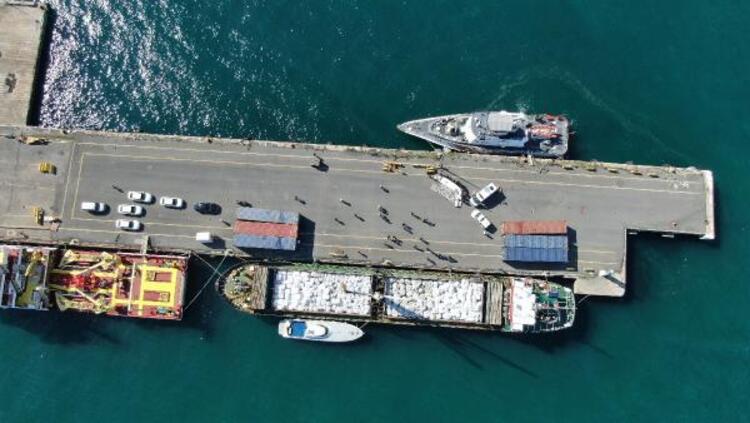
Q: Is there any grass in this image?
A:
No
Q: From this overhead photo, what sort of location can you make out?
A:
port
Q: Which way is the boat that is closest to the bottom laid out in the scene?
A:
from side to side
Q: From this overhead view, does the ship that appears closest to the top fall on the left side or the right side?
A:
right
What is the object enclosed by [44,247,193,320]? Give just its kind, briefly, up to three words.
ship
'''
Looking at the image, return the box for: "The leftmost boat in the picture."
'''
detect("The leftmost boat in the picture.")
[0,244,53,310]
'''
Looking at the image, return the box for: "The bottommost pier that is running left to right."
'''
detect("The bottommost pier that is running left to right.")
[0,126,716,296]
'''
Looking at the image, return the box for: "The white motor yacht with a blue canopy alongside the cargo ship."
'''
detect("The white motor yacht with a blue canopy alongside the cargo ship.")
[278,318,364,342]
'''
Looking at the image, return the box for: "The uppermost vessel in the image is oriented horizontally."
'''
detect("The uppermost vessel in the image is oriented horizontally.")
[398,110,577,159]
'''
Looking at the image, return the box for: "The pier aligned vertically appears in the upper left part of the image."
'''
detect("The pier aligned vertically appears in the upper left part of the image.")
[0,0,53,128]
